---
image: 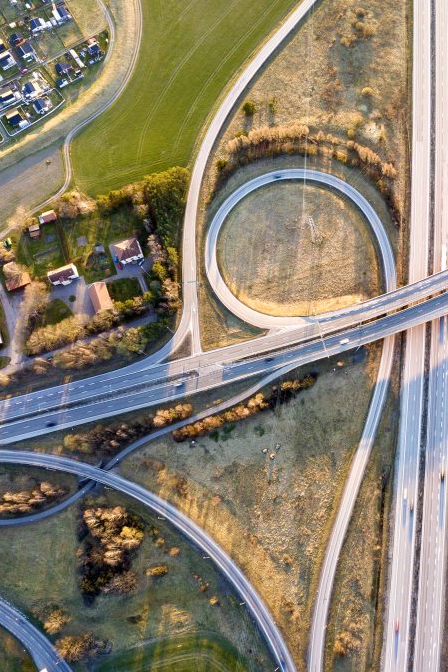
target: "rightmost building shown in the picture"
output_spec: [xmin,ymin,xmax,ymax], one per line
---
[114,237,146,267]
